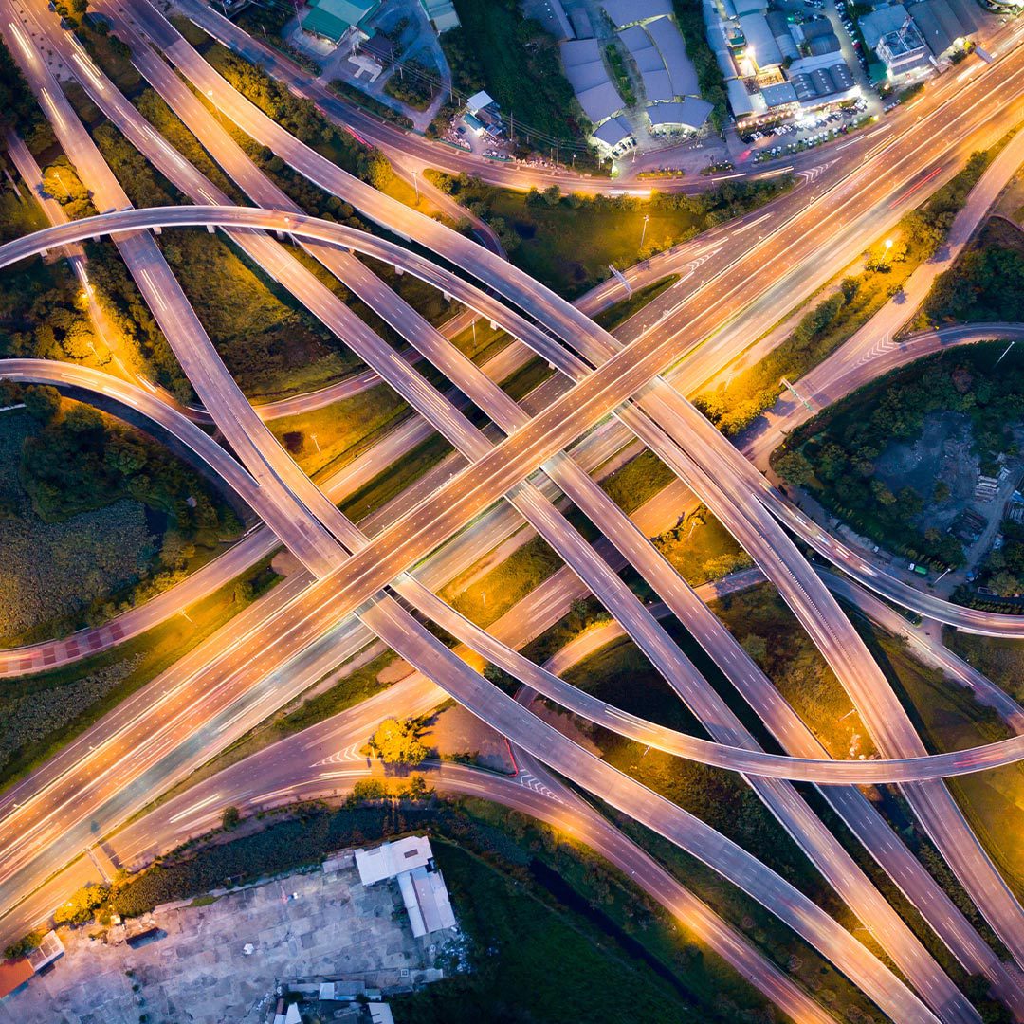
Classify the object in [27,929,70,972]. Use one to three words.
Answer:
shed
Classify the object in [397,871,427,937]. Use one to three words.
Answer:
building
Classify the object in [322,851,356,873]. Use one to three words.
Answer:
shed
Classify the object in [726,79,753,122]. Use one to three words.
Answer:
building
